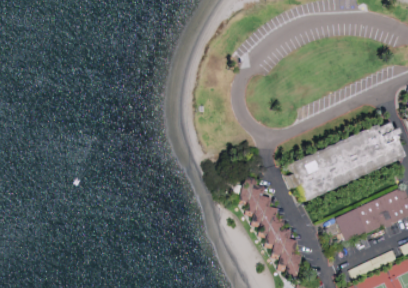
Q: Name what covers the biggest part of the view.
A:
water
